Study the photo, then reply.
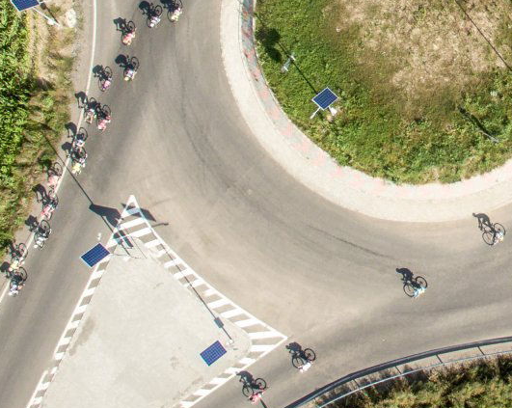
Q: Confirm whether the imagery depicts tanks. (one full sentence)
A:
No, the frame has no tank in it.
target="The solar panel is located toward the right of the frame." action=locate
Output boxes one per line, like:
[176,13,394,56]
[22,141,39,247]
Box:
[313,86,342,110]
